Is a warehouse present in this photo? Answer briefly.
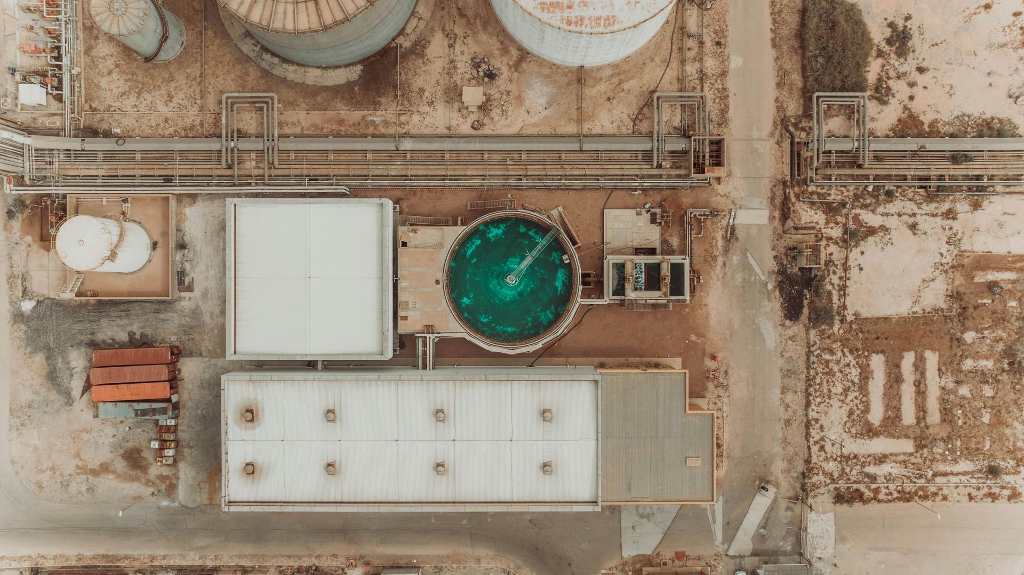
Yes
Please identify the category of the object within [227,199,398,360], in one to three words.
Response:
warehouse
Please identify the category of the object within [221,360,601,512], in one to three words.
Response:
building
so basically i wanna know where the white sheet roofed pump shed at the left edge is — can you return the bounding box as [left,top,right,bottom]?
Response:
[19,84,53,107]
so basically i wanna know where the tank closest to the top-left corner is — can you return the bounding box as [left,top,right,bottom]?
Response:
[86,0,189,65]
